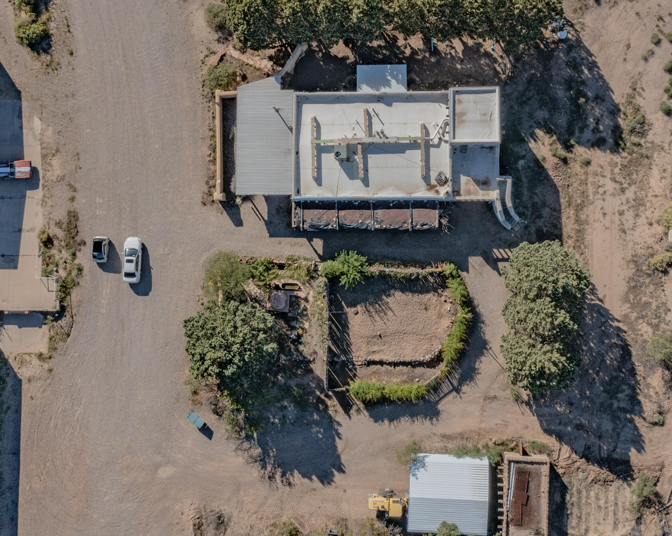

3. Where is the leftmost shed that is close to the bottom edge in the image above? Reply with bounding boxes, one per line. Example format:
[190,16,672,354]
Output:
[407,449,488,536]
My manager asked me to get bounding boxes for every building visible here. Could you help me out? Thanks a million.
[407,449,488,536]
[496,441,549,536]
[294,83,500,202]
